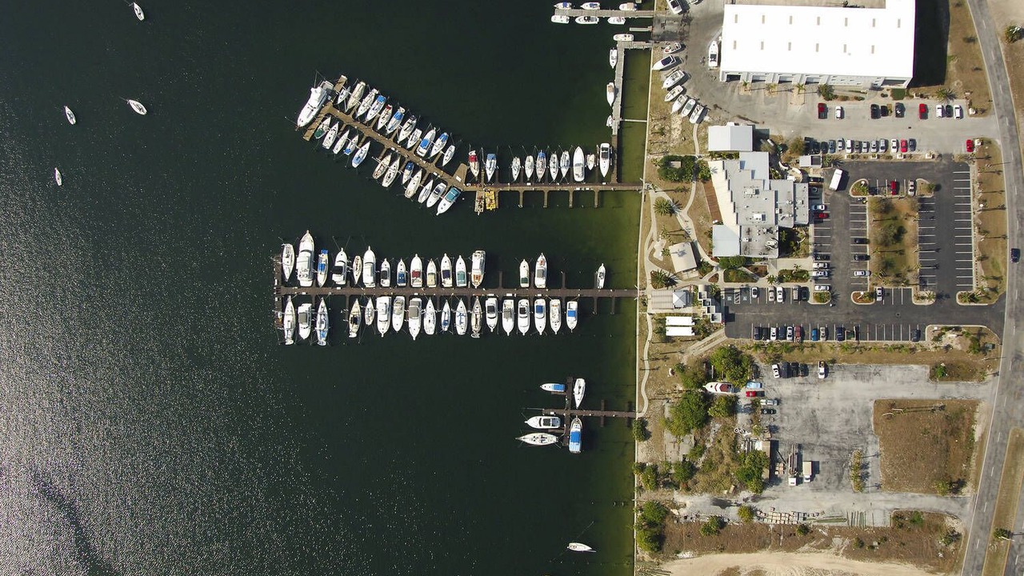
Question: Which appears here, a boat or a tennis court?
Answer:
boat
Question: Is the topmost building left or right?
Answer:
right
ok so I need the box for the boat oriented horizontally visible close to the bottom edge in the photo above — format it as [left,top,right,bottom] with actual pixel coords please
[565,541,592,555]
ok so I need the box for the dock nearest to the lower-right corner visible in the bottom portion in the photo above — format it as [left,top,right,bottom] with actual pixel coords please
[543,376,636,447]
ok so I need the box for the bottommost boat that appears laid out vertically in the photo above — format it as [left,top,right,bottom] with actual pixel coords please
[569,417,582,454]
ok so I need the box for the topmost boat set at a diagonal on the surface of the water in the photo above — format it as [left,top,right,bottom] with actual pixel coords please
[124,0,146,22]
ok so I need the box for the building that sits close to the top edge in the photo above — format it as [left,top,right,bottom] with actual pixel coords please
[722,0,916,95]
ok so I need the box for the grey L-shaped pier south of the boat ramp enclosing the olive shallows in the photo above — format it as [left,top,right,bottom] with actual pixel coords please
[611,39,652,183]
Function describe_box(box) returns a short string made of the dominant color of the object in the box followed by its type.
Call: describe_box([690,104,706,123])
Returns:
white boat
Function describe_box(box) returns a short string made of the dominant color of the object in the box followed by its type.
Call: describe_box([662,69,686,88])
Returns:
white boat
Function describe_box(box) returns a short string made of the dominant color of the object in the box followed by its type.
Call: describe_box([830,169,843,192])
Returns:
white vehicle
